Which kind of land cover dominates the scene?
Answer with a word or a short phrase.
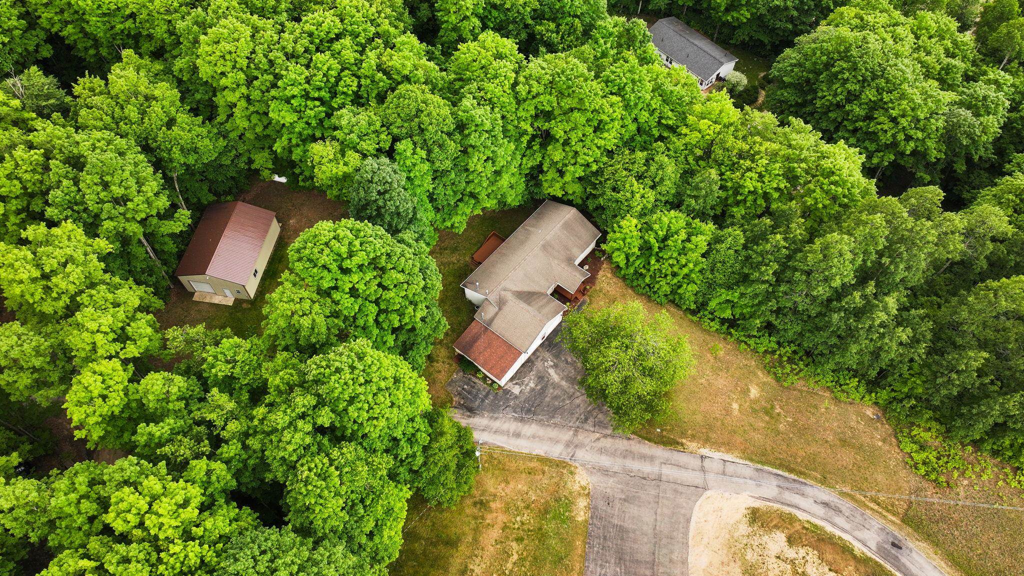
trees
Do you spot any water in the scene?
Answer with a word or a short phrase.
No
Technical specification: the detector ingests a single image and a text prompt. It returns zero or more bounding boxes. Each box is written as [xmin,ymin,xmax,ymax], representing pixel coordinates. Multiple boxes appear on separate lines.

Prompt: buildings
[174,201,280,299]
[640,17,737,89]
[453,200,601,386]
